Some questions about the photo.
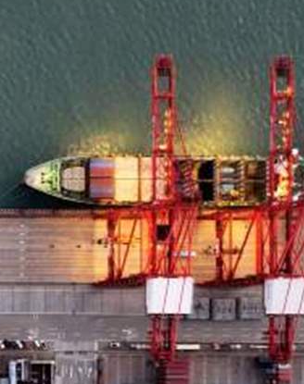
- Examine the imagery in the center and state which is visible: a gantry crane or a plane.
gantry crane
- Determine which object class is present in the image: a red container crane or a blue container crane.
red container crane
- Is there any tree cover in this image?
No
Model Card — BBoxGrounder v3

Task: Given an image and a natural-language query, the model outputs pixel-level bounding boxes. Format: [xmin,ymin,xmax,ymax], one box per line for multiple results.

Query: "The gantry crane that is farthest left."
[93,55,213,359]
